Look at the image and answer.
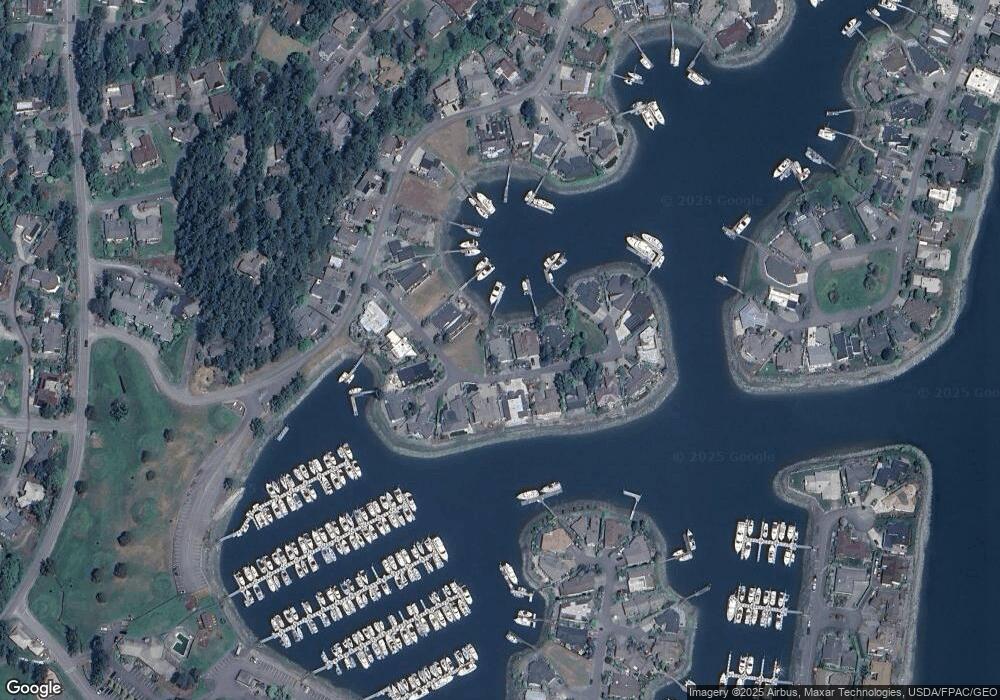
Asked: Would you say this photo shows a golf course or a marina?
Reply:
marina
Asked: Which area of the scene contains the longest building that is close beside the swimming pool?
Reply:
bottom left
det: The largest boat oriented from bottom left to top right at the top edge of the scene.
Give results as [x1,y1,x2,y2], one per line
[844,17,857,33]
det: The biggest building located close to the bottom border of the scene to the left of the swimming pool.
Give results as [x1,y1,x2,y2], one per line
[117,638,177,679]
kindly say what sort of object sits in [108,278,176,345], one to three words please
building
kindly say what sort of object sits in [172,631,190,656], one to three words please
swimming pool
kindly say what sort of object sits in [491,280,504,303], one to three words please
boat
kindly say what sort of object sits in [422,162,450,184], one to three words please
house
